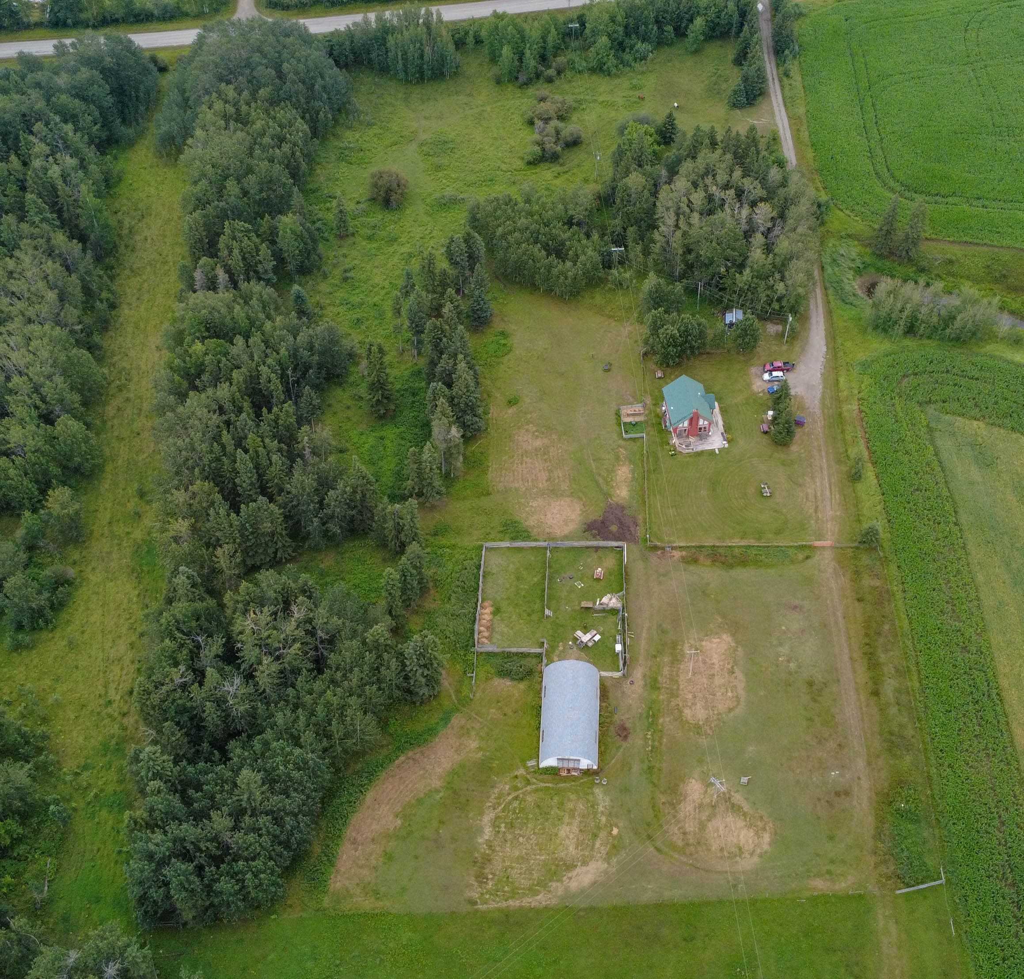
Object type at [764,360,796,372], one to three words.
vehicle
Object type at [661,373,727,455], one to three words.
house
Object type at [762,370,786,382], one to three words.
vehicle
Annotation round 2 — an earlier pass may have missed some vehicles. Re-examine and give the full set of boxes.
[765,381,788,394]
[762,370,786,382]
[764,360,796,372]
